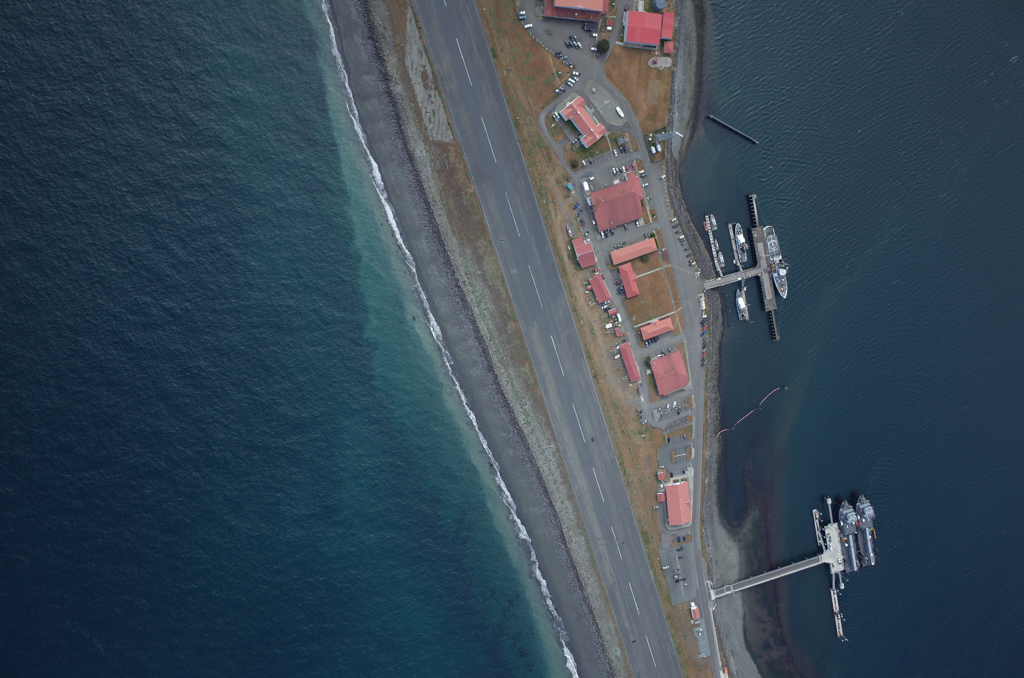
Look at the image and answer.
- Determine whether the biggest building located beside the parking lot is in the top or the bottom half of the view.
bottom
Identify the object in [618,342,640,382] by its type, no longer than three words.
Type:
building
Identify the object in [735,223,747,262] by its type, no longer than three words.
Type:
ship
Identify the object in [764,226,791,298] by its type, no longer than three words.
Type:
ship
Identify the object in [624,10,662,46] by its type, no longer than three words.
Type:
building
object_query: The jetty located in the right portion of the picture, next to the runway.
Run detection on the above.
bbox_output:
[715,553,820,599]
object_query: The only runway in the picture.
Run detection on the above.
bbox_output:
[413,0,685,678]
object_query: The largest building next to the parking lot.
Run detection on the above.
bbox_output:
[664,480,691,525]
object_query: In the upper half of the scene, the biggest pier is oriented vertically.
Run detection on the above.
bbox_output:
[746,226,777,313]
